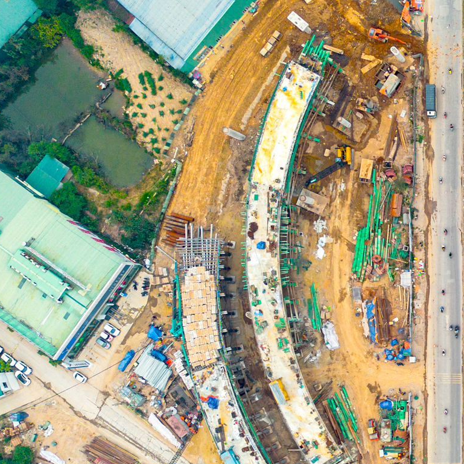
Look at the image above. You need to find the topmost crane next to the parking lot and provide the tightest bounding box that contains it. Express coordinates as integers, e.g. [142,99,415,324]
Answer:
[170,273,187,352]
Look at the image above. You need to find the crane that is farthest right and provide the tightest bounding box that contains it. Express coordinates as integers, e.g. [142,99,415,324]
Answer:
[304,144,360,187]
